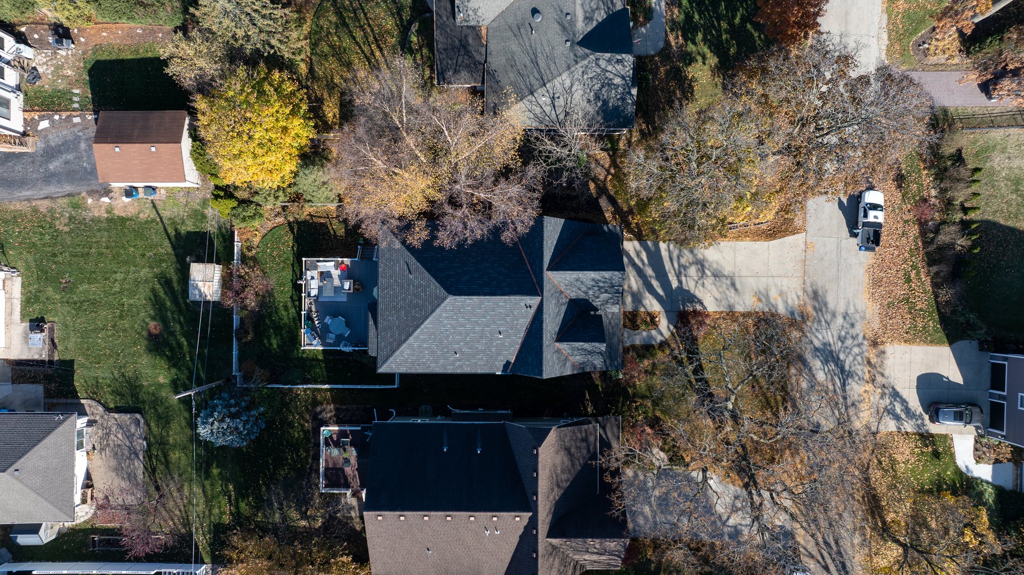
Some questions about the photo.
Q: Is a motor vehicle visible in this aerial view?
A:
Yes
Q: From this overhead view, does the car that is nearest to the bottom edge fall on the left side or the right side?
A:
right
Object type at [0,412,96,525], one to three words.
house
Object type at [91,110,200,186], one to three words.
building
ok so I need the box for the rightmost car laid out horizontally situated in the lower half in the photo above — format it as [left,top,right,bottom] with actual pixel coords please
[931,404,987,429]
